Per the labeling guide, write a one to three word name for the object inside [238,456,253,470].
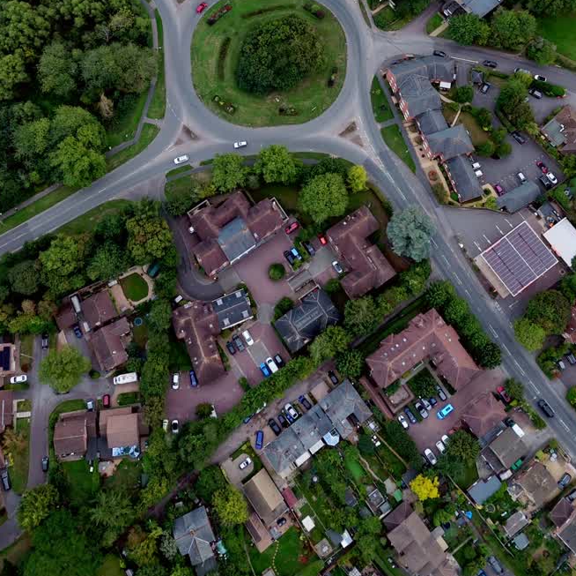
car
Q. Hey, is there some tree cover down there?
Yes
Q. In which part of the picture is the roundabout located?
top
